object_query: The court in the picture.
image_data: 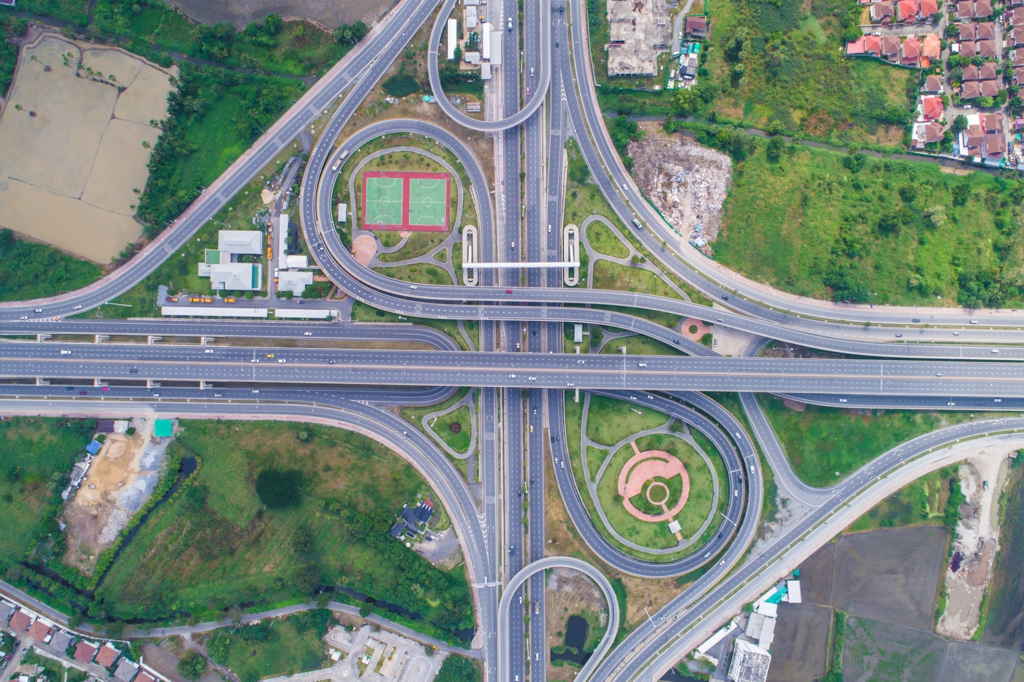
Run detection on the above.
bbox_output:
[362,171,450,231]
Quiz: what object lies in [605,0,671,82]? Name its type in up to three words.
building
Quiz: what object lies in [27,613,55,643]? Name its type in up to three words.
house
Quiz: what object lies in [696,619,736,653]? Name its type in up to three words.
shed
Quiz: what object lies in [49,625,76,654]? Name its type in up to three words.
house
